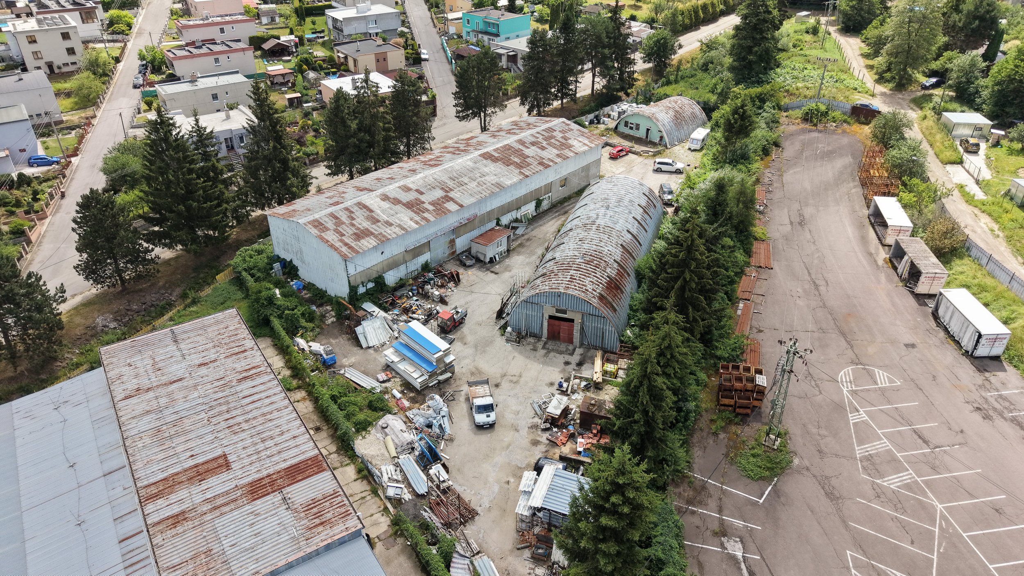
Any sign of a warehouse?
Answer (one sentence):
Yes, a warehouse is visible in the scene.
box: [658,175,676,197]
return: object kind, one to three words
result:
car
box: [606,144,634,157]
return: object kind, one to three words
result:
vehicle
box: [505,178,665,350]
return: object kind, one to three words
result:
hangar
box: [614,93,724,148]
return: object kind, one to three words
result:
hangar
